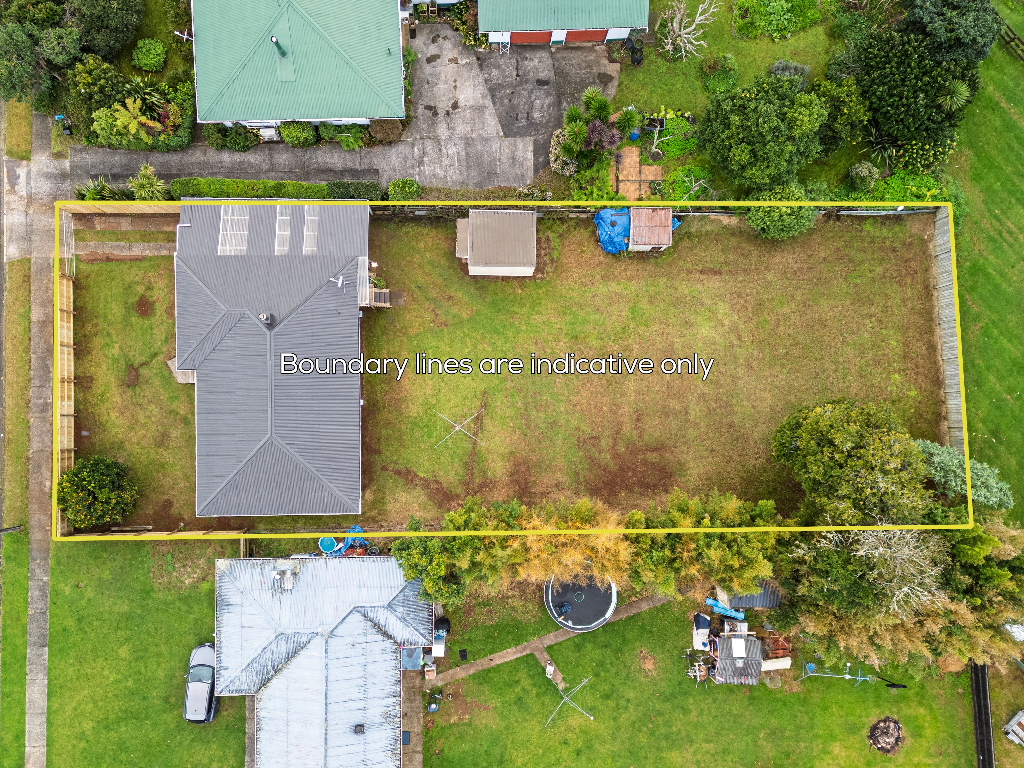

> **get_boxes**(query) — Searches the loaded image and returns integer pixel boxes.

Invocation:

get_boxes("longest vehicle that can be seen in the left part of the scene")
[180,643,220,728]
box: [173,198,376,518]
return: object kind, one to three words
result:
house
